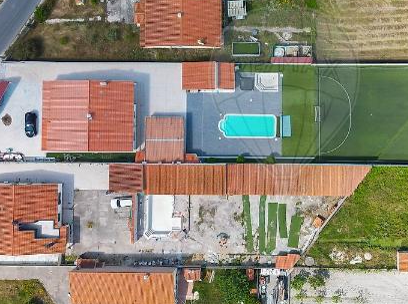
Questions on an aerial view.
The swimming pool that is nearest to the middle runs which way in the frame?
from left to right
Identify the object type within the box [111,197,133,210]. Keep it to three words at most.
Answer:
vehicle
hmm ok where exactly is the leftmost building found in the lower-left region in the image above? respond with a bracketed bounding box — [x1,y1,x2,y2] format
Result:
[0,182,72,262]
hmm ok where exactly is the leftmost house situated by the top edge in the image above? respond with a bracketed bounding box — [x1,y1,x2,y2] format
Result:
[134,0,222,48]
